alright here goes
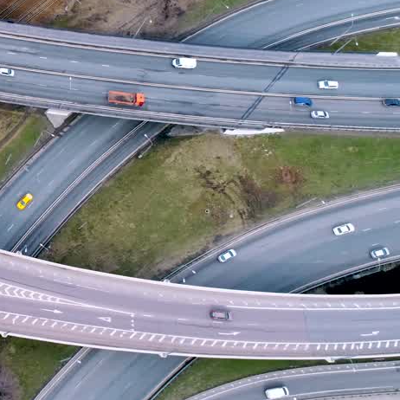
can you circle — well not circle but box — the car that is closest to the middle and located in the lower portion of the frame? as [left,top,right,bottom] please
[215,248,237,263]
